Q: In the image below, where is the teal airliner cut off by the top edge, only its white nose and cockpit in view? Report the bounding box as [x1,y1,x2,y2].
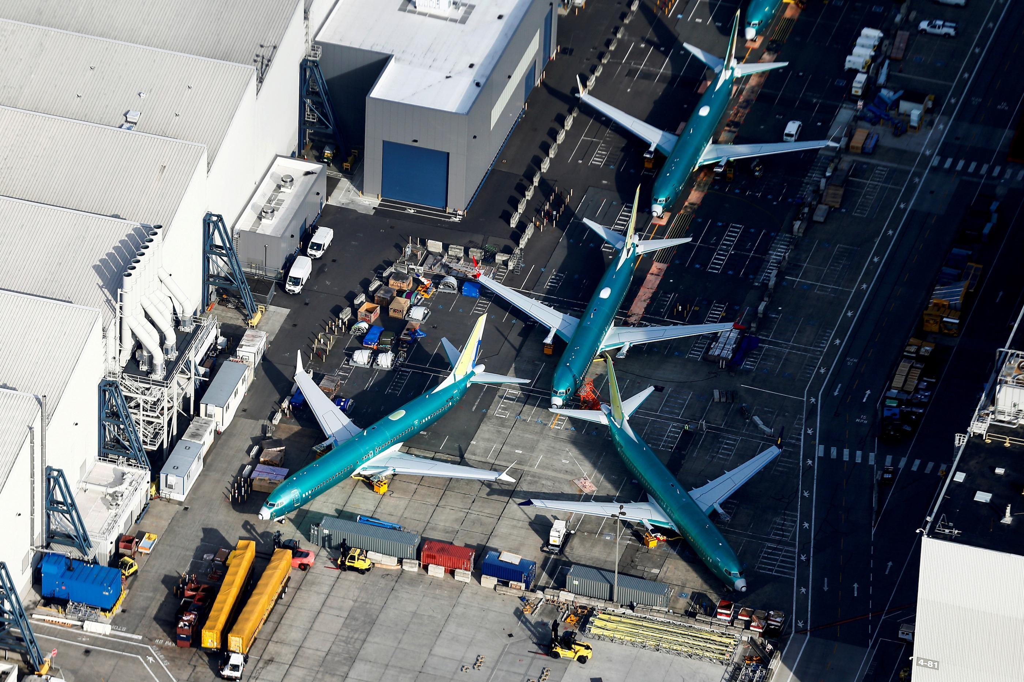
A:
[742,0,784,44]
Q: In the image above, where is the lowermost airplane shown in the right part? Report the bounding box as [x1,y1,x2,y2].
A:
[518,353,784,592]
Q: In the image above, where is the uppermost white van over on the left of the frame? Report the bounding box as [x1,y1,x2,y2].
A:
[307,214,337,254]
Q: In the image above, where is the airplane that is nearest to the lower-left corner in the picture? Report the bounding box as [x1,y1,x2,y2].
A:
[257,313,531,524]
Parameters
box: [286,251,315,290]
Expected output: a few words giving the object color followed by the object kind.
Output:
white van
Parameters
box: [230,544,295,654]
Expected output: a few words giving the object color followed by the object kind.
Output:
orange trailer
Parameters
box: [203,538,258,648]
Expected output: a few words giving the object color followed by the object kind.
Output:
orange trailer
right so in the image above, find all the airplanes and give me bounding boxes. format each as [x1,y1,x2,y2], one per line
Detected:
[257,313,531,524]
[518,353,784,592]
[742,0,784,44]
[471,184,746,409]
[576,9,839,221]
